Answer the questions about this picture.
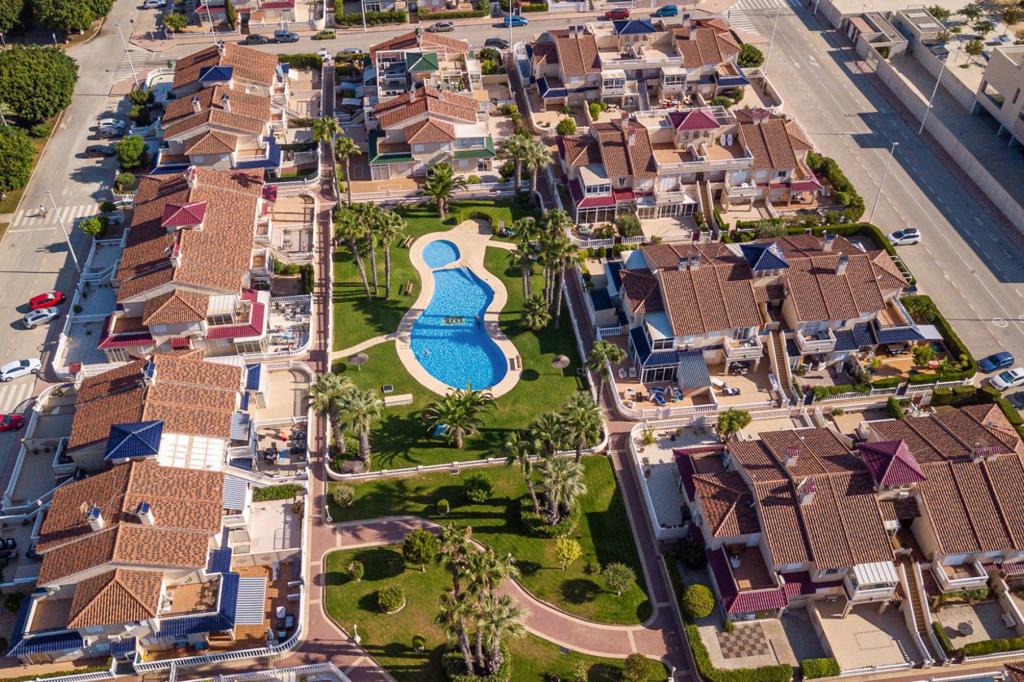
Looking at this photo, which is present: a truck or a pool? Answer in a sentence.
Of the two, only a pool appears.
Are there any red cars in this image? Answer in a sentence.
Yes, the image includes a red car.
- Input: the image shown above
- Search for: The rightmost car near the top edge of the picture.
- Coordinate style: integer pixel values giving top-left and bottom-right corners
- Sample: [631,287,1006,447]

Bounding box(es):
[655,2,680,16]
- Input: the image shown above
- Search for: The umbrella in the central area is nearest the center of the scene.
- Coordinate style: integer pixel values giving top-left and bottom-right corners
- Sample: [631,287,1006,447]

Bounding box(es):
[550,353,575,375]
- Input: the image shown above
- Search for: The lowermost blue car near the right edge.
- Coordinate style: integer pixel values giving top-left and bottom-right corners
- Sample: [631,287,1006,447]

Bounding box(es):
[980,352,1020,374]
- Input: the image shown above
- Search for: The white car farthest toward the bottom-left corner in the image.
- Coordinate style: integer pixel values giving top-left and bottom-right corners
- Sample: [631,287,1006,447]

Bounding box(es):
[0,360,39,382]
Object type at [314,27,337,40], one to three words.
vehicle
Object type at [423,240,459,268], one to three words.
swimming pool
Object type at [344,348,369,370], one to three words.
umbrella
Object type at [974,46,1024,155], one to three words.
building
